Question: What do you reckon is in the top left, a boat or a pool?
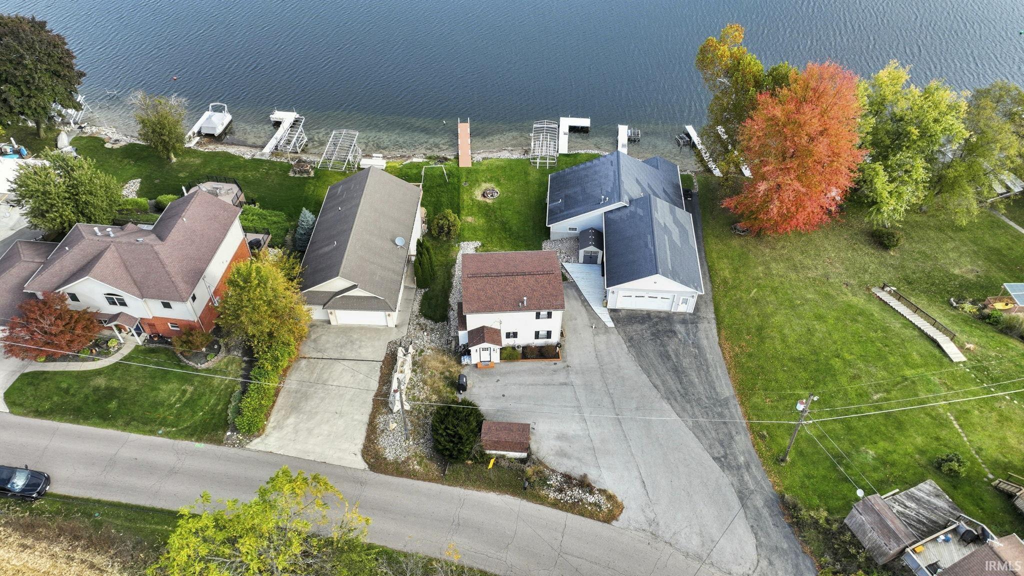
boat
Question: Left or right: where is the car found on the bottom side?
left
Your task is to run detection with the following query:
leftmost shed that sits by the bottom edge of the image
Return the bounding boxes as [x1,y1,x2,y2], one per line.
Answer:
[843,494,917,565]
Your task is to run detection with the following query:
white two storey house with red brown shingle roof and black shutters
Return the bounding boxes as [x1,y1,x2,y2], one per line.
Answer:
[457,248,566,370]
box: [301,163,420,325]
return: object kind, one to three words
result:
house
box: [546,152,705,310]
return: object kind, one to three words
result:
house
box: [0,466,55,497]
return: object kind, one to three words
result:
car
